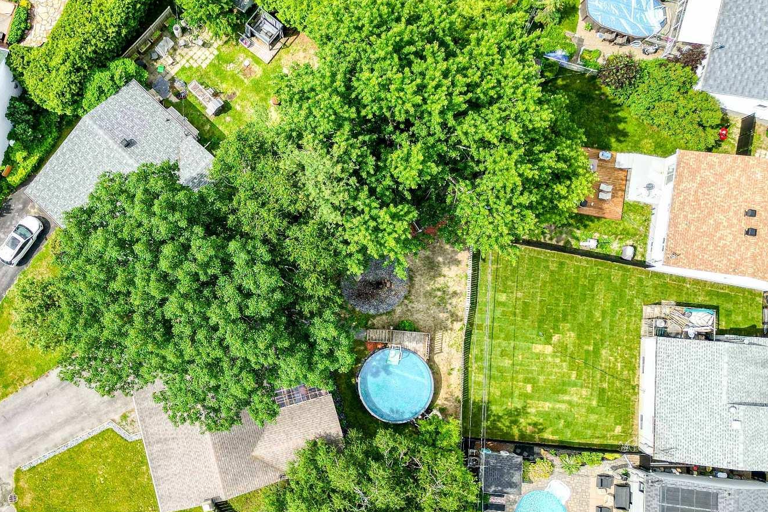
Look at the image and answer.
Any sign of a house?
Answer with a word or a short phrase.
Yes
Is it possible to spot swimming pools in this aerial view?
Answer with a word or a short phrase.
Yes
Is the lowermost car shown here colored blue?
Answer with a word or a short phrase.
No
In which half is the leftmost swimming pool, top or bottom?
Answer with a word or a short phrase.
bottom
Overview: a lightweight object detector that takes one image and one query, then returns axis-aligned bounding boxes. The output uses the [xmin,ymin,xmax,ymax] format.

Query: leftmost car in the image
[0,211,46,269]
